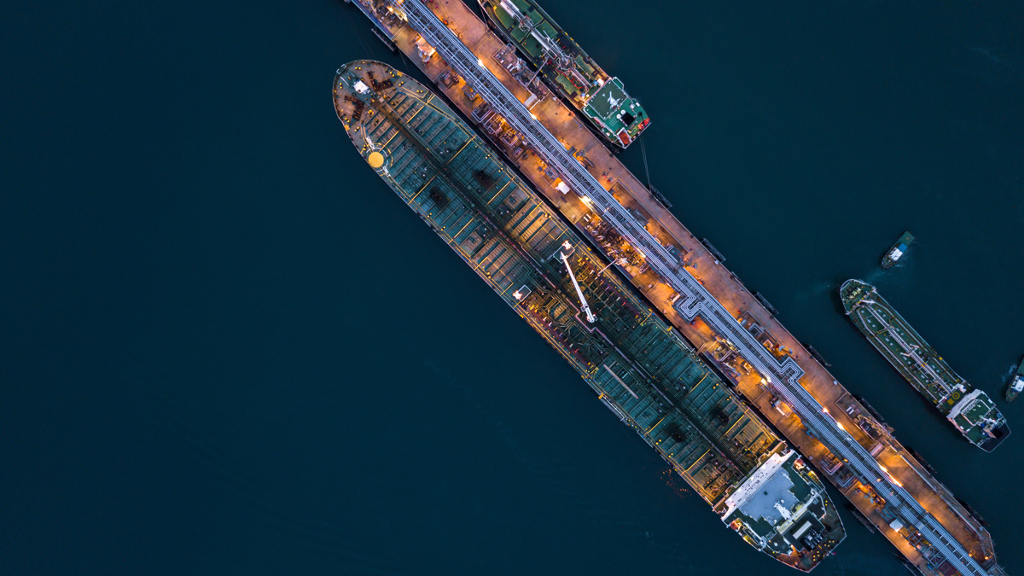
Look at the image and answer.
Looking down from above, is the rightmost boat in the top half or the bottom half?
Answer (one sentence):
You can find the rightmost boat in the bottom half.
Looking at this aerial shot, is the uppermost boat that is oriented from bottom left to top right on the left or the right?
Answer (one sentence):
The uppermost boat that is oriented from bottom left to top right sits on the right side.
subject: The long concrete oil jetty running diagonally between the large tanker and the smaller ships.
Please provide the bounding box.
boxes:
[351,0,1010,576]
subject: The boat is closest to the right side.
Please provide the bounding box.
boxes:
[1004,357,1024,402]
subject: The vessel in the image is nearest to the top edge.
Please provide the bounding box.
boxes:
[471,0,652,150]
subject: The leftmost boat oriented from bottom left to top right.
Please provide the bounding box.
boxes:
[881,229,917,268]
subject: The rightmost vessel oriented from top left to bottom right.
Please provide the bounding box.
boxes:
[838,280,1012,452]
